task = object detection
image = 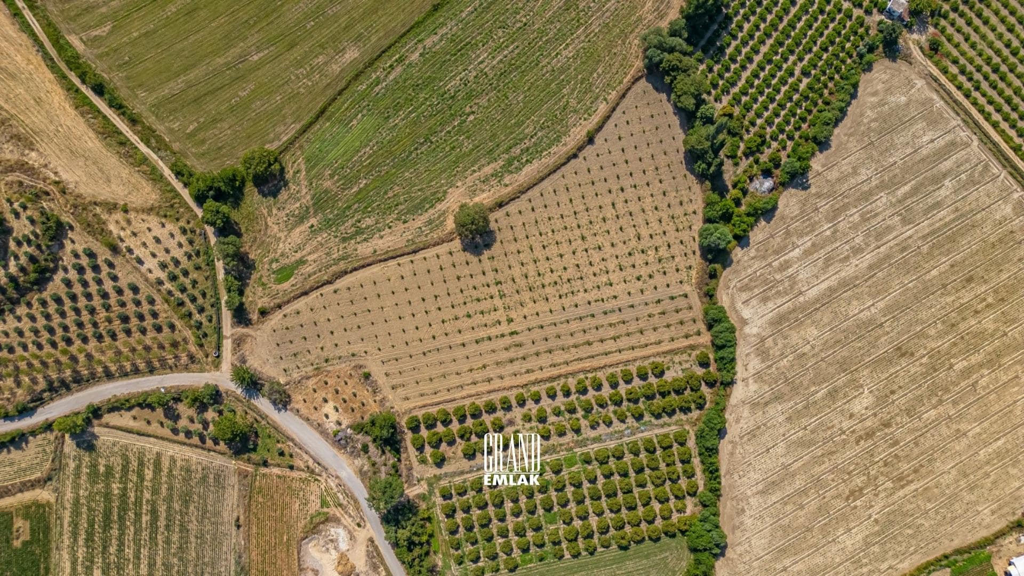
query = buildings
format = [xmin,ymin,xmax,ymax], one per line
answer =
[879,0,907,20]
[1003,549,1024,576]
